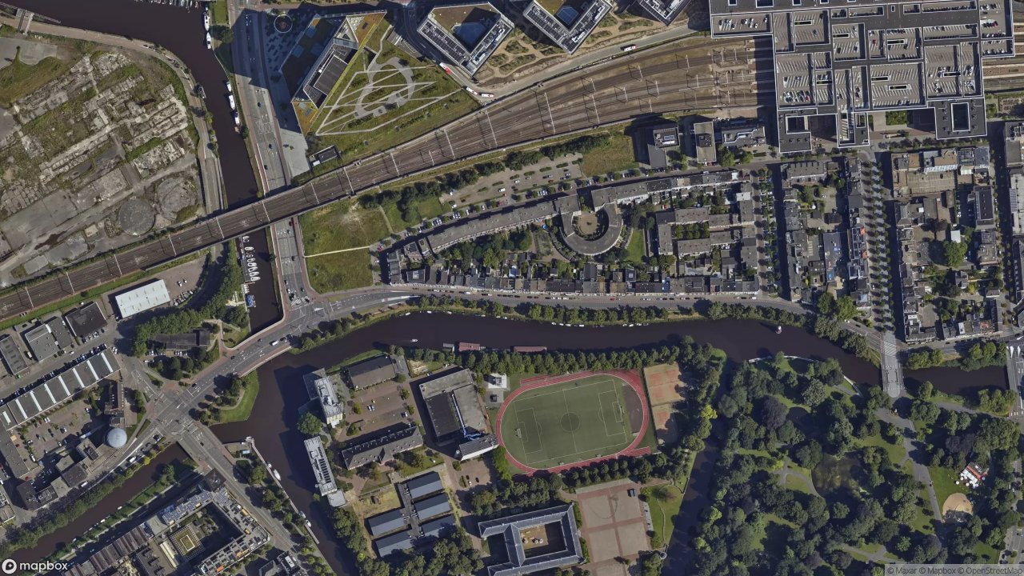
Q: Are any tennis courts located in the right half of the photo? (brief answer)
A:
Yes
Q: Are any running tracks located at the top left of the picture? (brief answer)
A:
No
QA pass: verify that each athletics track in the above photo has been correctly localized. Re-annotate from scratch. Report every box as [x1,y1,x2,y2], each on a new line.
[495,369,651,475]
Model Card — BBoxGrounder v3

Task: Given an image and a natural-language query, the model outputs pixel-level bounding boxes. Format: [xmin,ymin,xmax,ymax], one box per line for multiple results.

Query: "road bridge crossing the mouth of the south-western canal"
[177,426,223,461]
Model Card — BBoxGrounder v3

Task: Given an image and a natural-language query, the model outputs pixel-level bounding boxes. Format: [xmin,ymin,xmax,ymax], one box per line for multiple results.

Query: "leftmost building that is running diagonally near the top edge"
[280,12,387,140]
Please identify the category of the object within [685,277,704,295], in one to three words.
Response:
house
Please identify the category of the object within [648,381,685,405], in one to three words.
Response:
tennis court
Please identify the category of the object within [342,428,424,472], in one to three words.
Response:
building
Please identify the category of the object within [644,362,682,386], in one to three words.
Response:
tennis court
